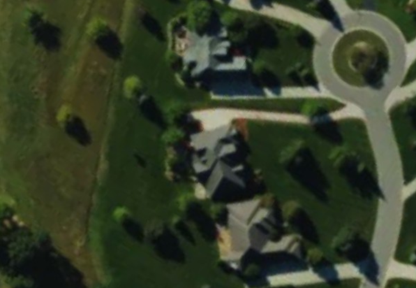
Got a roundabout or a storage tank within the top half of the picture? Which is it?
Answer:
roundabout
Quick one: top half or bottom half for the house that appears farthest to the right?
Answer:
bottom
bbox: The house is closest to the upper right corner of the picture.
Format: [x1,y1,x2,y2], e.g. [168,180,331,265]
[175,26,249,83]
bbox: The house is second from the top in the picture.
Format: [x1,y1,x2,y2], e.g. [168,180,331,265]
[188,118,259,205]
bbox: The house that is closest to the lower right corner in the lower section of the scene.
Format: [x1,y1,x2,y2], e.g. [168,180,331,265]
[225,193,311,263]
